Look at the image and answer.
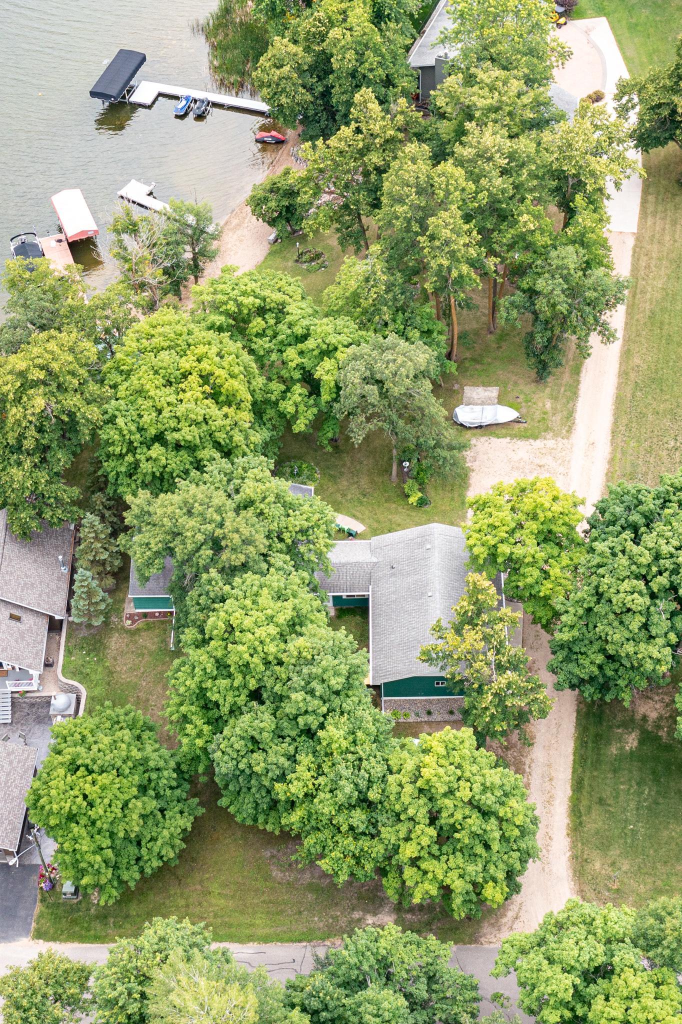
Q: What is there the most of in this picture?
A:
trees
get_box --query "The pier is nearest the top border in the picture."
[128,82,275,117]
